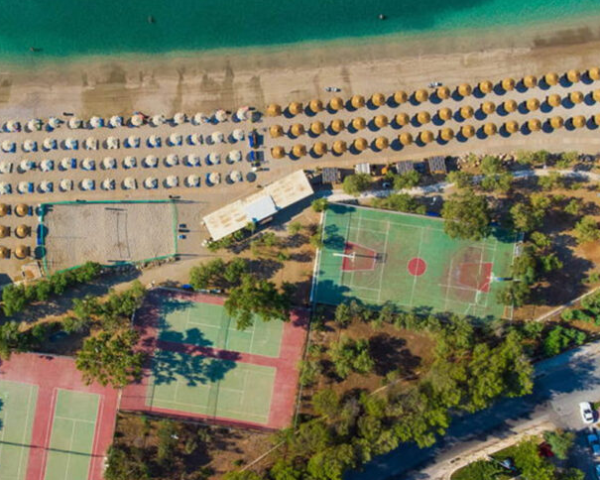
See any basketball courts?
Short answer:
Yes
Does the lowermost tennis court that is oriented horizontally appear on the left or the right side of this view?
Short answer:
left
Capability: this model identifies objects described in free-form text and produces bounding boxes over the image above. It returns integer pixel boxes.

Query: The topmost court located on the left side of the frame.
[41,200,177,274]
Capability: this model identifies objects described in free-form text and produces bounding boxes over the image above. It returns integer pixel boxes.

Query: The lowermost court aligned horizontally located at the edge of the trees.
[119,334,299,429]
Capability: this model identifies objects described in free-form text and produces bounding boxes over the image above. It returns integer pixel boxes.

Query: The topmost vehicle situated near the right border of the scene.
[577,400,594,424]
